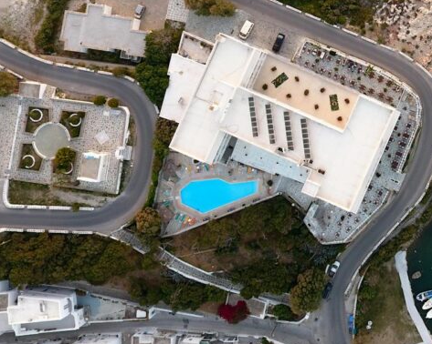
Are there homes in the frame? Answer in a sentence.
Yes, the picture does show a home.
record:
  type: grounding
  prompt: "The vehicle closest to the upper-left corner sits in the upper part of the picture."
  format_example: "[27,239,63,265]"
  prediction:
[135,2,148,20]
